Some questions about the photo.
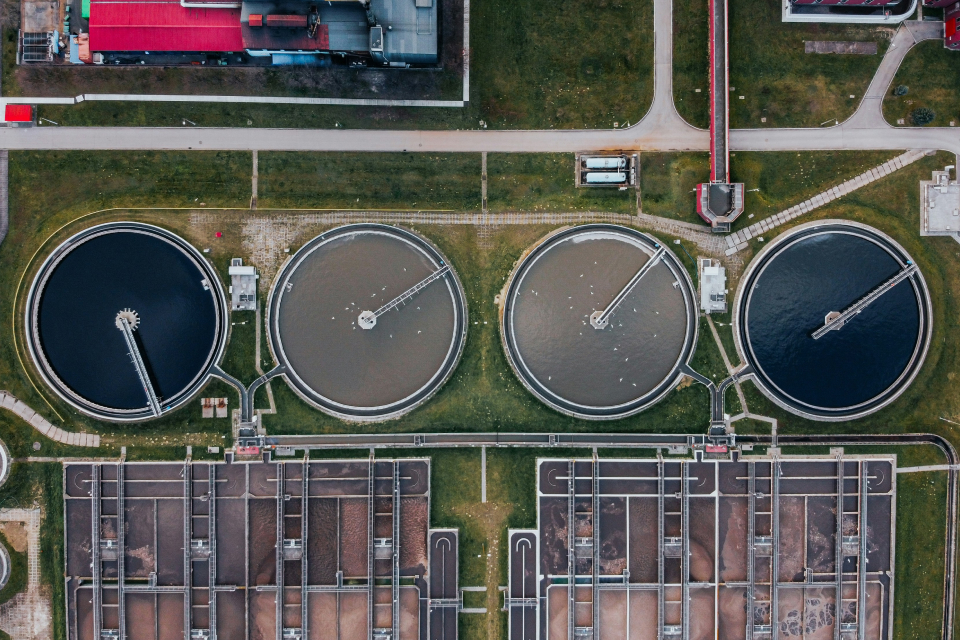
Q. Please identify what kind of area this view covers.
industrial area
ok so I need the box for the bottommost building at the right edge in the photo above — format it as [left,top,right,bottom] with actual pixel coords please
[917,164,960,247]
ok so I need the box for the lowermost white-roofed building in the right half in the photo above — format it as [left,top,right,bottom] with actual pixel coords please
[698,260,728,314]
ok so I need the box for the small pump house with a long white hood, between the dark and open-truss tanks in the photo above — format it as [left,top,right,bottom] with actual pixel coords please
[229,259,261,310]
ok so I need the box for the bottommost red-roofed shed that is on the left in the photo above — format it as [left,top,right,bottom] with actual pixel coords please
[5,105,37,124]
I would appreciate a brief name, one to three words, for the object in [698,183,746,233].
house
